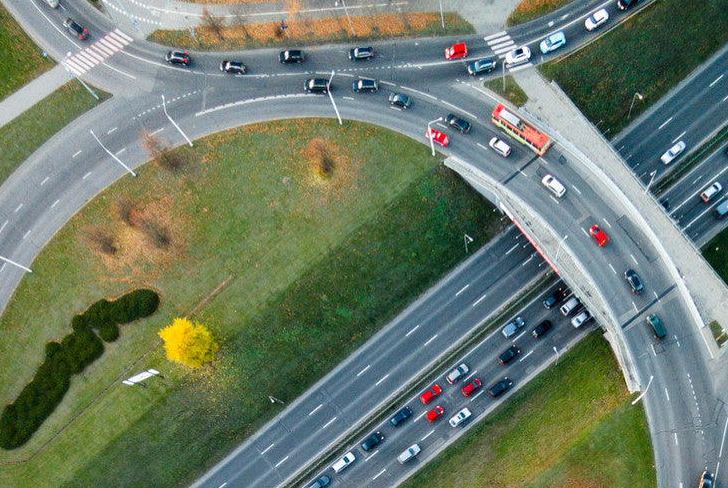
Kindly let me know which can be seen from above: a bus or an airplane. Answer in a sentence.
This aerial view contains a bus.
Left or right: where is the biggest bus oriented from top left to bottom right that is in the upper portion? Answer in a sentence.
The biggest bus oriented from top left to bottom right that is in the upper portion is on the right side of the image.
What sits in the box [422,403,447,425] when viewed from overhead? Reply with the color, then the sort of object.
red car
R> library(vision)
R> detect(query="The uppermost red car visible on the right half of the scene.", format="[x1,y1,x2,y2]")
[443,43,469,59]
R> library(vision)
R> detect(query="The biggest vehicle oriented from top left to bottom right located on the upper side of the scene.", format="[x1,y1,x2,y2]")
[491,102,551,159]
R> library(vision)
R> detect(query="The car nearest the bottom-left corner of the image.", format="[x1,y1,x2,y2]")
[308,474,332,488]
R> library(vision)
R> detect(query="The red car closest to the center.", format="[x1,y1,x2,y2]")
[423,128,451,146]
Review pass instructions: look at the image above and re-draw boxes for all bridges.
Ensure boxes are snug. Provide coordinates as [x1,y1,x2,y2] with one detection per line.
[443,80,728,393]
